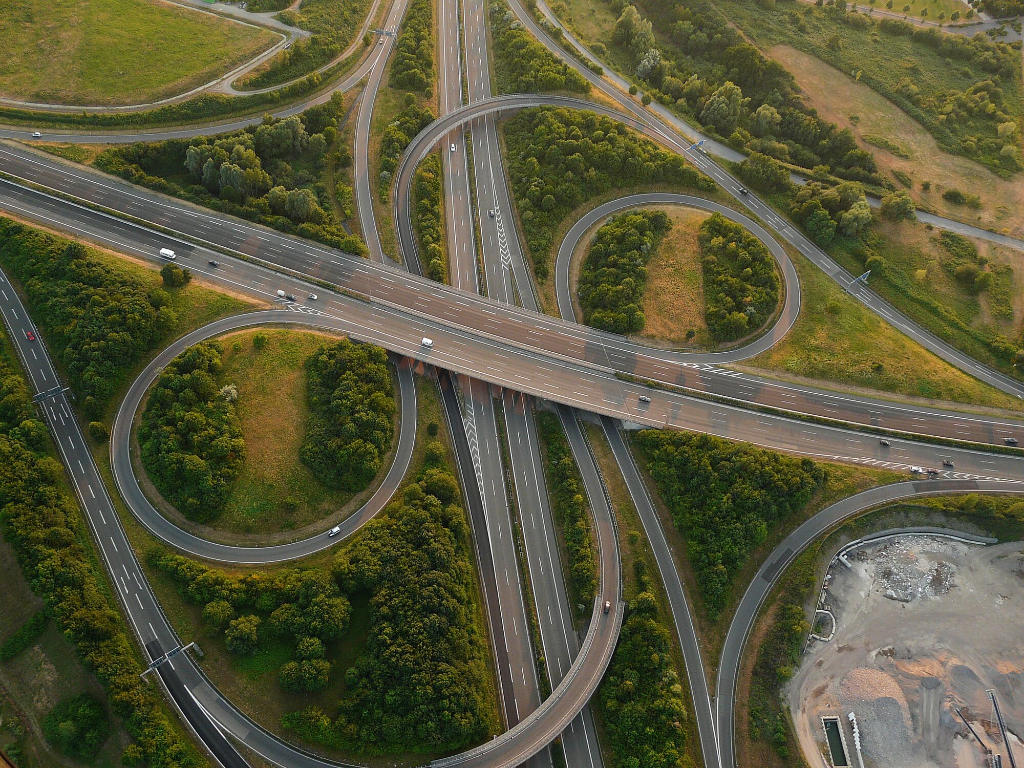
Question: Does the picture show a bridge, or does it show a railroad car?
bridge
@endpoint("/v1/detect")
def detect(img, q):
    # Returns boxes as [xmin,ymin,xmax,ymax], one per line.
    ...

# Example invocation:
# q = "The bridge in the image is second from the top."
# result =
[331,249,662,428]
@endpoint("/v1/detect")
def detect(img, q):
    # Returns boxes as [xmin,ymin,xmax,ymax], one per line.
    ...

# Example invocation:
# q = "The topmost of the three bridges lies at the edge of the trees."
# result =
[402,93,541,167]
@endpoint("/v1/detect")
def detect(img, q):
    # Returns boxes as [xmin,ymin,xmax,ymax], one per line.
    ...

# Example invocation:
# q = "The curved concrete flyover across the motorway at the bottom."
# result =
[417,595,622,768]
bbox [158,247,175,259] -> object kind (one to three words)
vehicle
